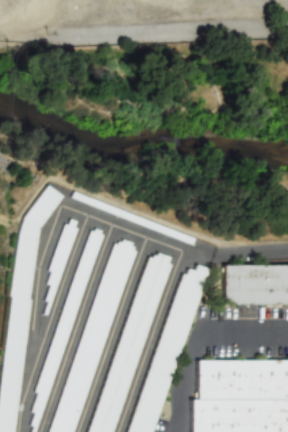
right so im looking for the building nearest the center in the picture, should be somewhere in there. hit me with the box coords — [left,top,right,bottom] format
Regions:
[72,192,196,246]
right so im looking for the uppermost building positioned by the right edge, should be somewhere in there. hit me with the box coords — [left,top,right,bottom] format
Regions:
[226,265,288,305]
